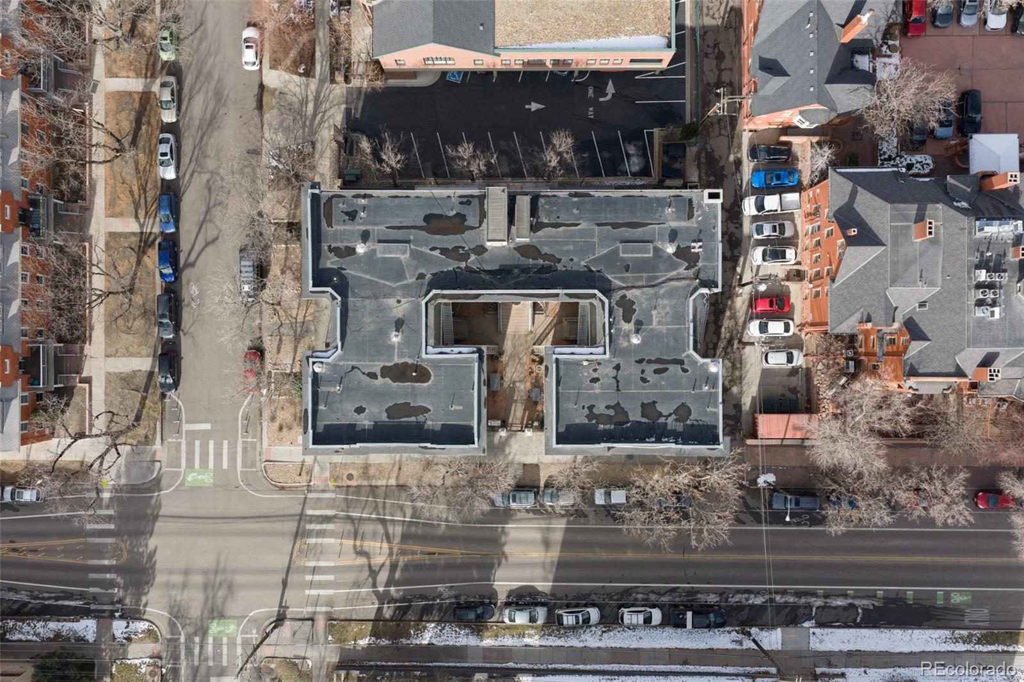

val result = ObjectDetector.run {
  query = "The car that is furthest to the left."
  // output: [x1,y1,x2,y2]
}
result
[3,484,47,506]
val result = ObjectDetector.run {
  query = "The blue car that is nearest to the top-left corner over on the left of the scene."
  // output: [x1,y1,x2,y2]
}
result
[157,194,179,234]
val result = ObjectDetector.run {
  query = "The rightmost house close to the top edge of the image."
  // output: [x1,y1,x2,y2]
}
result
[741,0,916,141]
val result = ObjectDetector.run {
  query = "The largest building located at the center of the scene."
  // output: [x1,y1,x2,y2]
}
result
[303,183,730,456]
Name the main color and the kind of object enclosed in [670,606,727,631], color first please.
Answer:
black truck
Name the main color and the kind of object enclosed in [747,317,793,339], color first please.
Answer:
white car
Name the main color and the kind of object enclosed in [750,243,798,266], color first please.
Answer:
white car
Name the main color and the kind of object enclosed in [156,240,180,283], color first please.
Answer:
blue car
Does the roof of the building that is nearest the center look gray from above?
Yes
